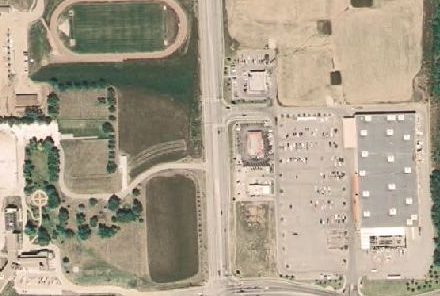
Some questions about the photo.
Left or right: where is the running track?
left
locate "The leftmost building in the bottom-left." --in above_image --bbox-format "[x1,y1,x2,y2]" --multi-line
[6,207,22,235]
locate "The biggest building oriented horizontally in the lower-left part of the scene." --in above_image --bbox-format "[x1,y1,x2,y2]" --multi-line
[18,257,48,270]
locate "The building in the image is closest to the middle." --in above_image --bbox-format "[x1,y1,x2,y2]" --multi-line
[247,131,264,157]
